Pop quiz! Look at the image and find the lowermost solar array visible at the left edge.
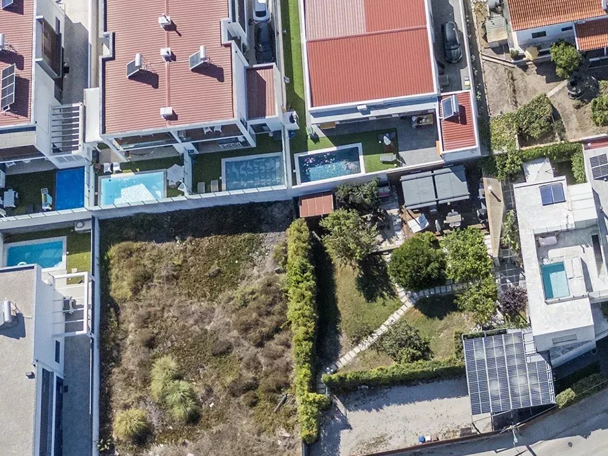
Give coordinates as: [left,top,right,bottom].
[0,64,25,113]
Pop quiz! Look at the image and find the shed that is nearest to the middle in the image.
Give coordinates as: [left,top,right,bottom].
[301,192,337,223]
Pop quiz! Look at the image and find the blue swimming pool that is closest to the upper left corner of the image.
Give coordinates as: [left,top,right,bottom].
[54,169,86,211]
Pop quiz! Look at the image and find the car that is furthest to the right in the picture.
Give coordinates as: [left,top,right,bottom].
[442,24,462,64]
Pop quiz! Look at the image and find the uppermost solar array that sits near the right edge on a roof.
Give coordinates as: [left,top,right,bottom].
[590,154,608,180]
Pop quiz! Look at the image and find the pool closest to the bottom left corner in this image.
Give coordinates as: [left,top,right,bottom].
[6,238,67,271]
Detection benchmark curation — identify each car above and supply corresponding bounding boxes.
[255,24,276,62]
[442,24,462,64]
[254,0,271,24]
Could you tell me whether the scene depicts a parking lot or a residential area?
residential area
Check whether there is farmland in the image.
No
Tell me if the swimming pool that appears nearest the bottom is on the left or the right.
right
